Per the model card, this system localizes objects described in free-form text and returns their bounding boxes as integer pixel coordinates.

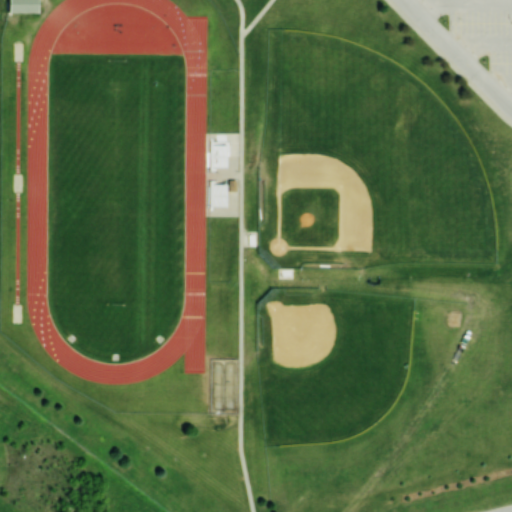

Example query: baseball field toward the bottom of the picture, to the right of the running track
[257,288,414,446]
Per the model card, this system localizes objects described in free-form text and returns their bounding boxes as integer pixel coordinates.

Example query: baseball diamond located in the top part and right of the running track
[260,28,498,268]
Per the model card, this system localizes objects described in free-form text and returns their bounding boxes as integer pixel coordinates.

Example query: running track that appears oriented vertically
[26,0,207,384]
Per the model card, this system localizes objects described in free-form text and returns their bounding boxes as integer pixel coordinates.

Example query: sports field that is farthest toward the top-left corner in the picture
[47,54,186,364]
